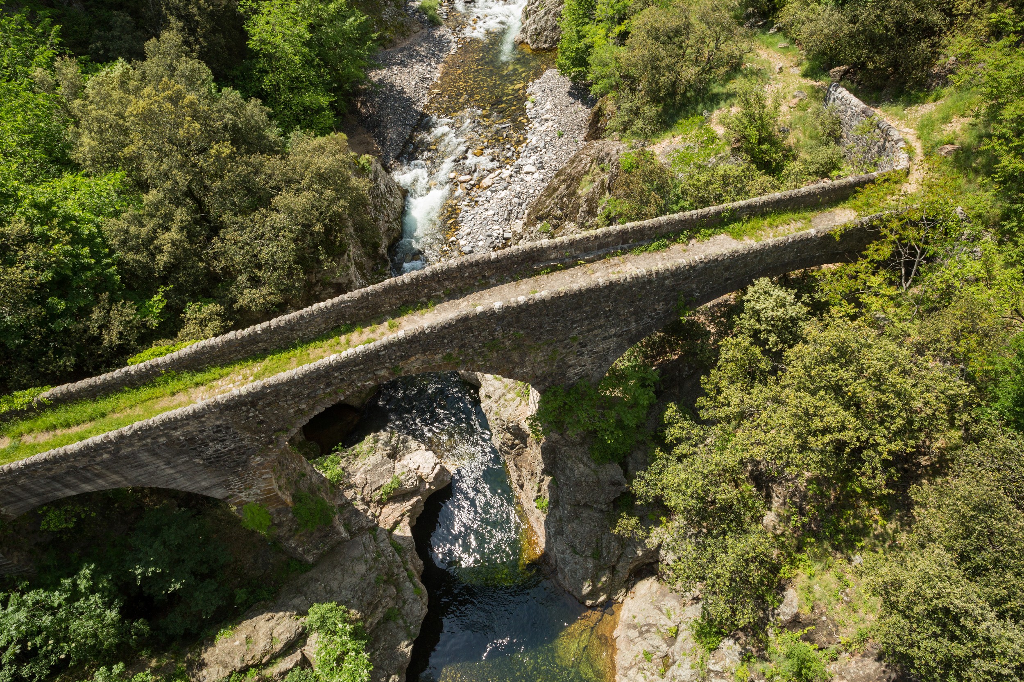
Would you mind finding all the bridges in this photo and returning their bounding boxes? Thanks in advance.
[0,169,941,568]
